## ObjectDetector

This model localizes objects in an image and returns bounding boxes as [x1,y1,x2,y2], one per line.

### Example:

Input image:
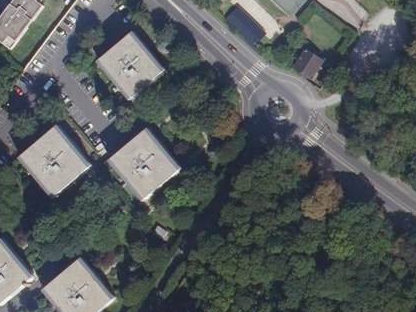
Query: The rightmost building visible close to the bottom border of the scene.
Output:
[42,258,113,312]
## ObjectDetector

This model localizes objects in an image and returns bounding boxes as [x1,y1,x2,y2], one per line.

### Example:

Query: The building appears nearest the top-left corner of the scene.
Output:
[0,0,46,50]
